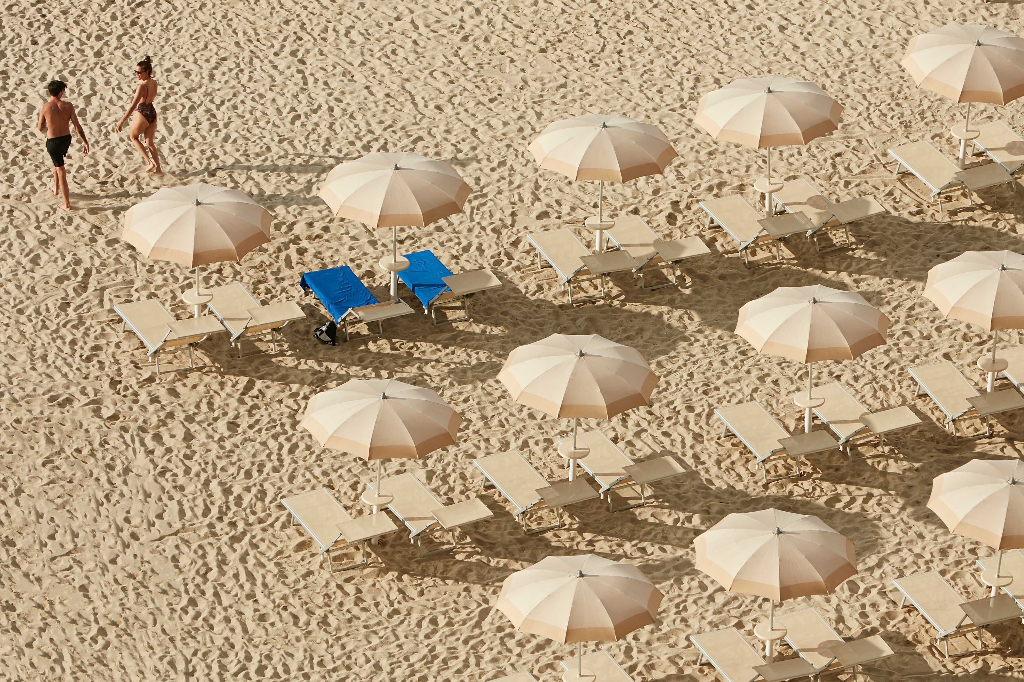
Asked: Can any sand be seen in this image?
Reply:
Yes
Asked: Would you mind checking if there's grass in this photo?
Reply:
No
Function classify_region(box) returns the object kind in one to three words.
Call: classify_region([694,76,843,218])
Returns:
umbrella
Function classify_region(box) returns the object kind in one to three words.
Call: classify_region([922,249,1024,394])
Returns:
umbrella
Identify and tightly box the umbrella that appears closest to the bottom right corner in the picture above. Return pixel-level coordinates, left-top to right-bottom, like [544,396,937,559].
[926,460,1024,597]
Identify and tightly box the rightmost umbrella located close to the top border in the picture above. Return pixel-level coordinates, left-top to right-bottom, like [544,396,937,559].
[899,24,1024,170]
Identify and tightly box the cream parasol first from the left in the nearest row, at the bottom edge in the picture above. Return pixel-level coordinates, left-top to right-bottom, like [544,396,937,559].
[494,554,664,682]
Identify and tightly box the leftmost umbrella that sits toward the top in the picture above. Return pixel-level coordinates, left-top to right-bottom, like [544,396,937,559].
[120,183,273,317]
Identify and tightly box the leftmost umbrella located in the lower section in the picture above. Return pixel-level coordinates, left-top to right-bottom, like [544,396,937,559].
[300,379,464,516]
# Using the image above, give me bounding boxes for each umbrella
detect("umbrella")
[899,24,1024,170]
[695,509,858,663]
[317,152,473,304]
[497,334,660,481]
[120,183,273,317]
[922,249,1024,394]
[494,554,664,682]
[926,460,1024,597]
[734,285,891,434]
[694,76,843,218]
[300,379,464,516]
[527,113,680,253]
